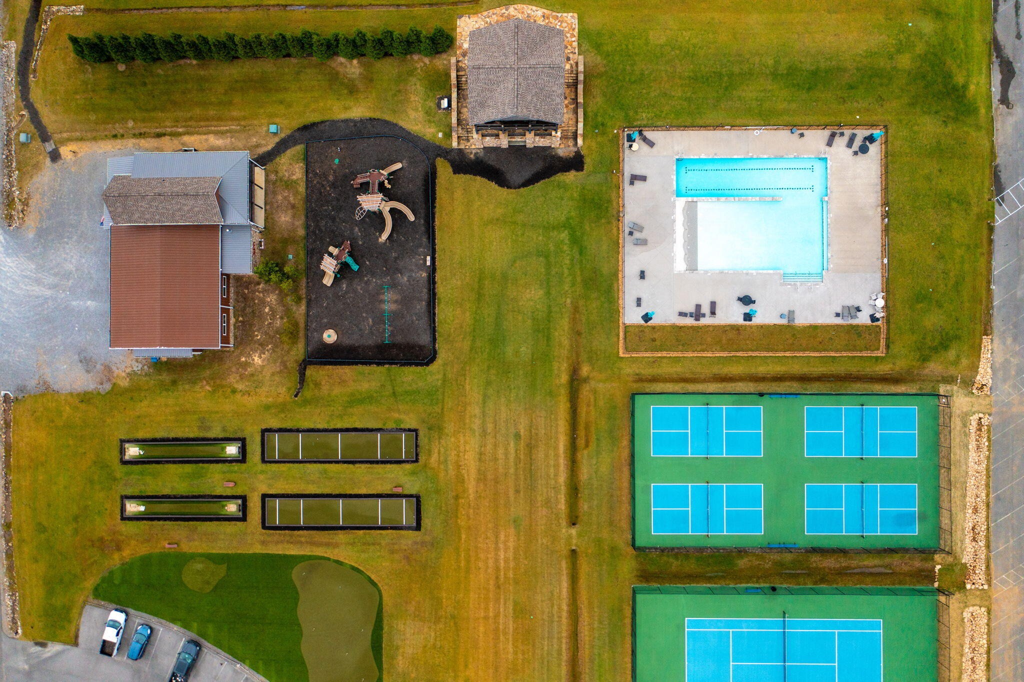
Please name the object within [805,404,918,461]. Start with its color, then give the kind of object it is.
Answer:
blue sports court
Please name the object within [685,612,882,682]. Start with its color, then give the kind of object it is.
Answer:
blue tennis court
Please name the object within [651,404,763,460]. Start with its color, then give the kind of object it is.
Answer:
blue sports court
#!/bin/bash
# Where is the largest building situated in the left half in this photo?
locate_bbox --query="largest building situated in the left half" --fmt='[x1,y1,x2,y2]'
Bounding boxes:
[101,148,265,358]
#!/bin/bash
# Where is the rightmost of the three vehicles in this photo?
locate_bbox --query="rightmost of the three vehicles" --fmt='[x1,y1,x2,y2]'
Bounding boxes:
[169,636,203,682]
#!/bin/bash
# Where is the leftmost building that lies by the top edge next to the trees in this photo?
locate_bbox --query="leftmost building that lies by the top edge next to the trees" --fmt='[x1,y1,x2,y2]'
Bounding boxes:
[451,5,584,148]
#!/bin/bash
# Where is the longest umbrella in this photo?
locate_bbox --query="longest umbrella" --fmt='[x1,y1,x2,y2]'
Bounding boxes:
[865,130,888,145]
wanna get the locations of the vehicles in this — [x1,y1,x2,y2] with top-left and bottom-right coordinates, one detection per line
[98,605,131,658]
[127,621,155,661]
[169,636,203,682]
